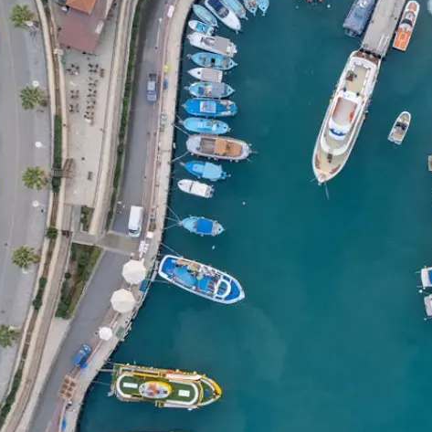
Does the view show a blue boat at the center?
Yes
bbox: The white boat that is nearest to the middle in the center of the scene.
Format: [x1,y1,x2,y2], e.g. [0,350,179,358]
[170,178,217,198]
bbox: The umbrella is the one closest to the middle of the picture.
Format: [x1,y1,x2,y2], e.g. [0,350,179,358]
[123,260,147,283]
